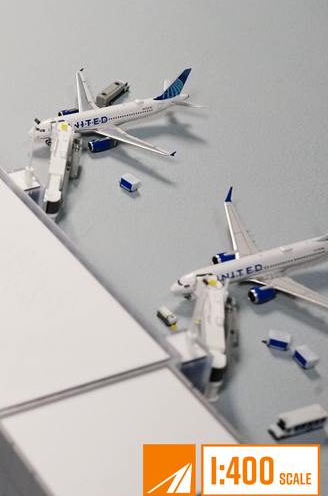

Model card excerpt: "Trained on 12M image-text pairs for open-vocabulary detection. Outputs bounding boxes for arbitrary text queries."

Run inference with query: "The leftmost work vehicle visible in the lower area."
[157,307,178,327]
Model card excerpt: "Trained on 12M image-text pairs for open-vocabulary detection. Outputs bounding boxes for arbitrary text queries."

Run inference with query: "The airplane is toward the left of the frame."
[27,67,211,156]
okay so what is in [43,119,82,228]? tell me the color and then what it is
white jet bridge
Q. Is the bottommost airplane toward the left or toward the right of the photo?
right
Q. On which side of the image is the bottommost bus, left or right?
right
